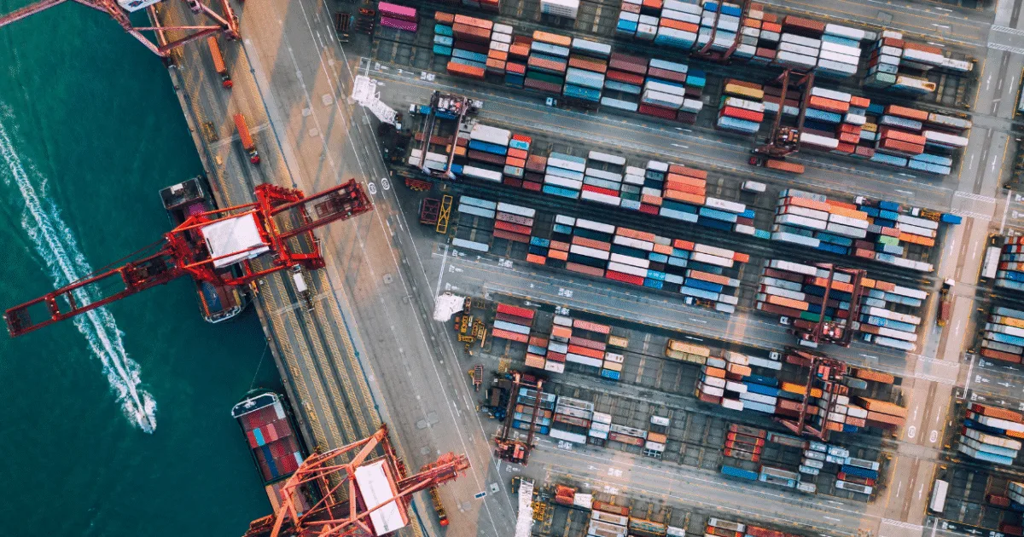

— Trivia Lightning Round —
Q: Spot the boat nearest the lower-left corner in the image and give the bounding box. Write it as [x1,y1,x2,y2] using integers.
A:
[138,412,152,434]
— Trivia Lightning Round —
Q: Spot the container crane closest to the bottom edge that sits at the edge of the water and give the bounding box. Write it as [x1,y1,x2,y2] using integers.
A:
[225,420,471,537]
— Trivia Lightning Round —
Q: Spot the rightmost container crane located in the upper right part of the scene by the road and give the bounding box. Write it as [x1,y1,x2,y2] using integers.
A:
[745,63,818,158]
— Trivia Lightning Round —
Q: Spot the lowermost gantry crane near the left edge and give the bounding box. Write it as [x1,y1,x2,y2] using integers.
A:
[4,179,376,337]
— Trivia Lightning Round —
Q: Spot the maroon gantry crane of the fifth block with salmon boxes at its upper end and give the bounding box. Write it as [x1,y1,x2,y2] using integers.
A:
[768,346,847,439]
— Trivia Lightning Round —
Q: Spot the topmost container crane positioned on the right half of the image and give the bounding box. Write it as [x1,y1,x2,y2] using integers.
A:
[689,0,752,66]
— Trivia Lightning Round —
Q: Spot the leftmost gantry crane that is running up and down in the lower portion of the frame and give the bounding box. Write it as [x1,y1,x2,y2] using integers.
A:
[493,367,550,466]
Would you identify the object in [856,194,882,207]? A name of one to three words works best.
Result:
vehicle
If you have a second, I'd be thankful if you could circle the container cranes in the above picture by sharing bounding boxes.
[0,0,244,58]
[768,346,847,439]
[493,367,550,466]
[689,0,752,66]
[788,258,864,346]
[225,420,471,537]
[745,63,818,158]
[4,179,376,337]
[416,87,474,184]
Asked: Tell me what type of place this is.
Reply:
port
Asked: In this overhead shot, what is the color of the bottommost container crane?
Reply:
red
